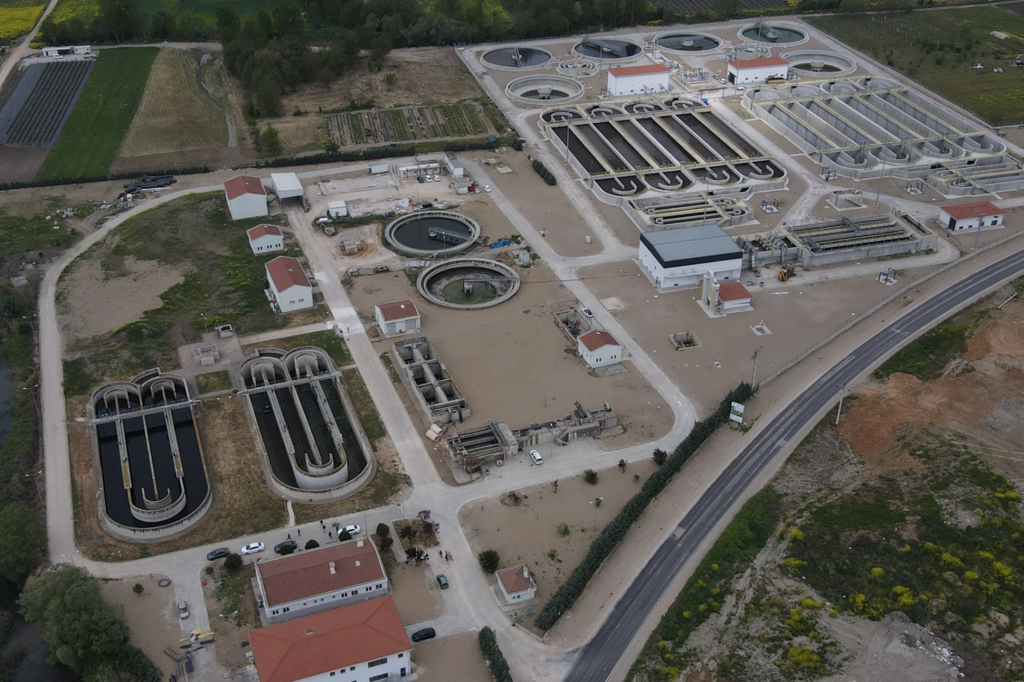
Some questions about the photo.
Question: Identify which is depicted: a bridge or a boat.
bridge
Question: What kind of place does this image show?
industrial area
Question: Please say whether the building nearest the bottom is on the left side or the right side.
left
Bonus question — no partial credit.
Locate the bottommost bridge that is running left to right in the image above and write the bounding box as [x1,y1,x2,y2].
[85,395,201,429]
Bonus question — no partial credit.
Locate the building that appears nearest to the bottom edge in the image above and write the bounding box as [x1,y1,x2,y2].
[249,596,420,682]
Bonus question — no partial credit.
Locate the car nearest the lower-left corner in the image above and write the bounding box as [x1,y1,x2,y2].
[176,601,189,620]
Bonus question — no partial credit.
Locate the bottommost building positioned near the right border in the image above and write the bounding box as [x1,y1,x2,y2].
[934,200,1009,234]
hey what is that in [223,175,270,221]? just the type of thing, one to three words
building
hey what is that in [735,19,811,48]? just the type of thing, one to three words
storage tank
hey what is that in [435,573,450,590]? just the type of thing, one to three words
car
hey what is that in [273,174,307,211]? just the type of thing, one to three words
shed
